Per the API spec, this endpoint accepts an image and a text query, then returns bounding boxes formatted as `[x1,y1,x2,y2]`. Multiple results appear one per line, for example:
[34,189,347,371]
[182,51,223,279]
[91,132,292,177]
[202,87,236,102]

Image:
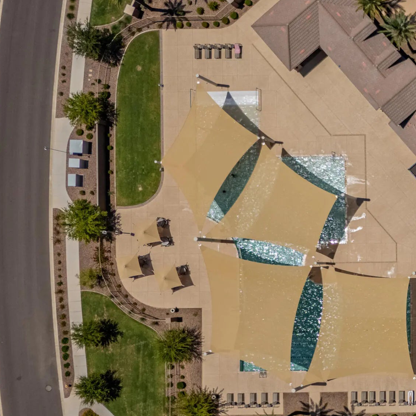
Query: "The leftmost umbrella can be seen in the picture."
[115,253,142,279]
